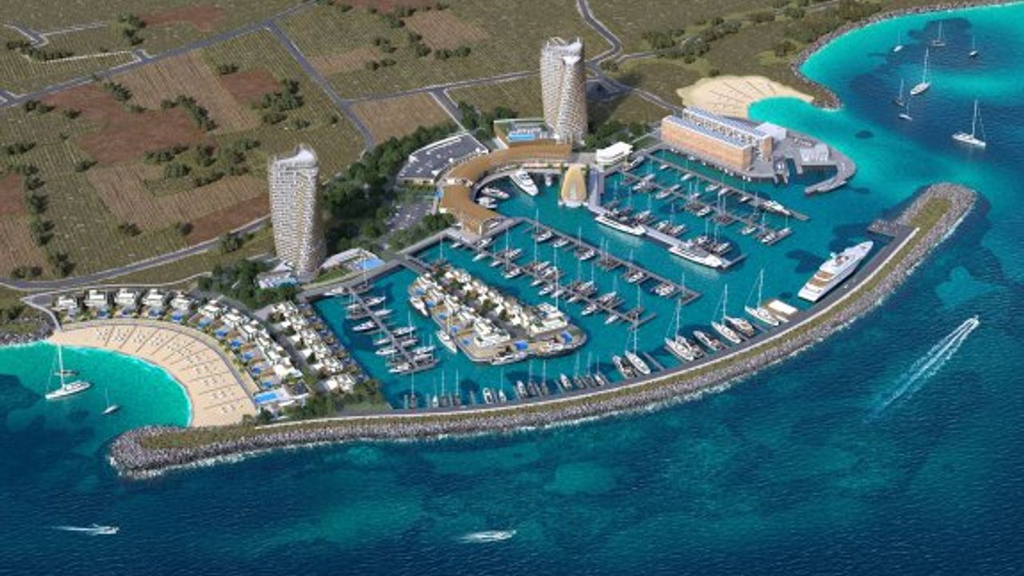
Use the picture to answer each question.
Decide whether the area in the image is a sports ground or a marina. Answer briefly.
marina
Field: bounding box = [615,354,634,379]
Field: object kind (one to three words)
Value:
boat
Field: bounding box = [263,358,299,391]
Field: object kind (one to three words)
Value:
house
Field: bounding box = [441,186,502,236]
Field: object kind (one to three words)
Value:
building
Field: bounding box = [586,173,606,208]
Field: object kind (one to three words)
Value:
pier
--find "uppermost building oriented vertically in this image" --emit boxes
[544,39,591,151]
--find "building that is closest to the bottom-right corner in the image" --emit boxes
[760,297,802,320]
